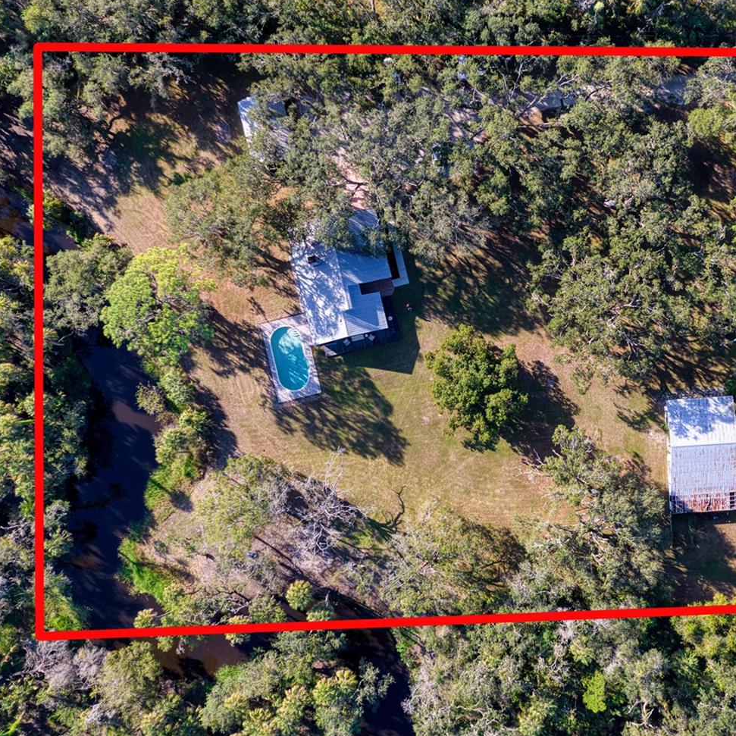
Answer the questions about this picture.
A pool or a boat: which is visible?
pool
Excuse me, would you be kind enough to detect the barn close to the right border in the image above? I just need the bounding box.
[663,396,736,516]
